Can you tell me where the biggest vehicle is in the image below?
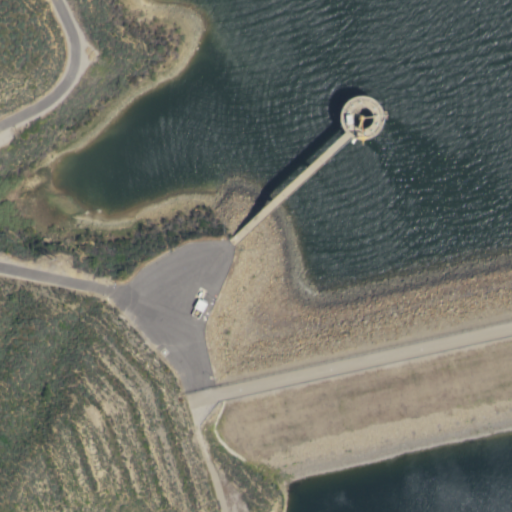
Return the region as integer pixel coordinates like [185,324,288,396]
[192,298,208,319]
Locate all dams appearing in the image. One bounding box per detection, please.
[186,172,512,476]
